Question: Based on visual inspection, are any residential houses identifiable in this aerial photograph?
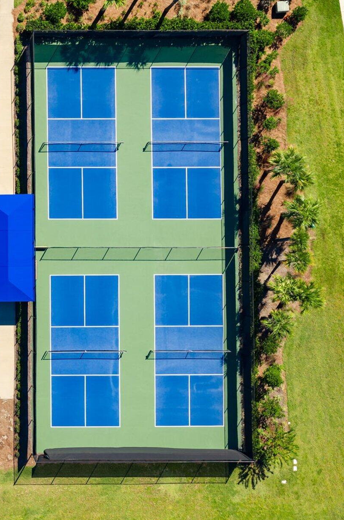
No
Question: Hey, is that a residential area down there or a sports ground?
sports ground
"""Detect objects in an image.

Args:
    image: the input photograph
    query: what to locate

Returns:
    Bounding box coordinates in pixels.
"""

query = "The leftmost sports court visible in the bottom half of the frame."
[34,248,137,453]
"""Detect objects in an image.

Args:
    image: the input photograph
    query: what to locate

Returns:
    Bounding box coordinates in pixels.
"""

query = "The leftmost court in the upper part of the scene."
[33,38,136,247]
